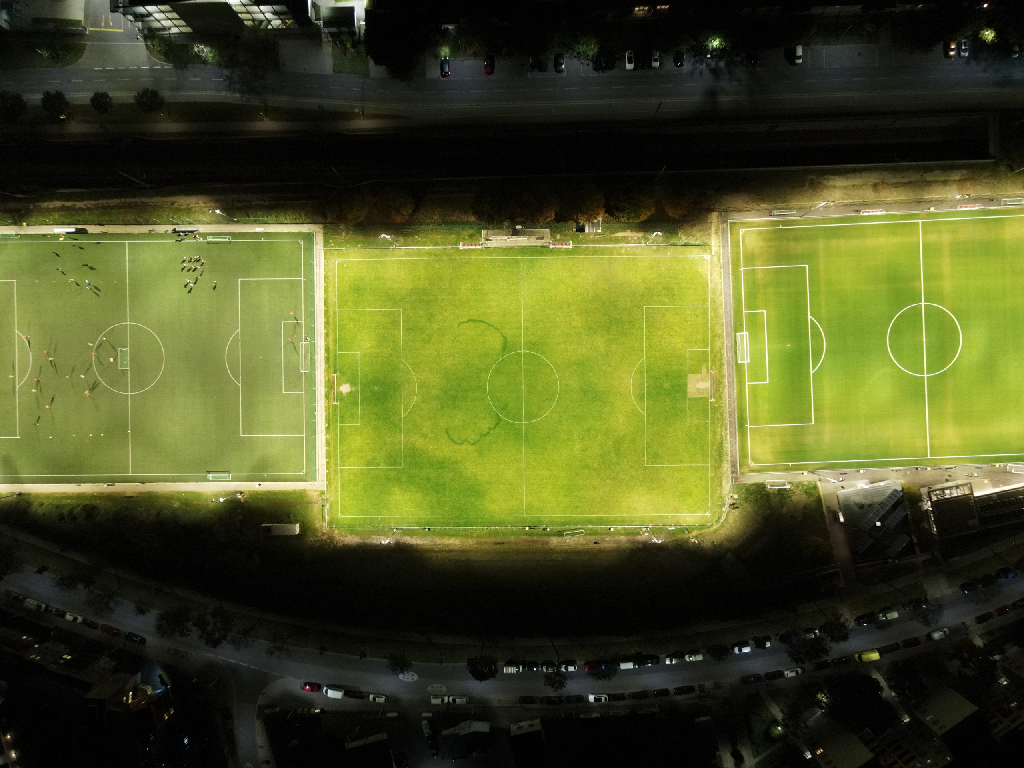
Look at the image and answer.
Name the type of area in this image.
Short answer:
sports ground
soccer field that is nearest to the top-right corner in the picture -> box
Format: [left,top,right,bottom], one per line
[730,207,1024,474]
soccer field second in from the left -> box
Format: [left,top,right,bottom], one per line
[324,245,730,528]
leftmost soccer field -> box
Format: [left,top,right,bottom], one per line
[0,232,318,484]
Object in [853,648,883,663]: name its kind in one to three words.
vehicle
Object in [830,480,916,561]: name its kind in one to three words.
building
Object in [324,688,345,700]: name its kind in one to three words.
vehicle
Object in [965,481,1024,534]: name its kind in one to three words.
building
